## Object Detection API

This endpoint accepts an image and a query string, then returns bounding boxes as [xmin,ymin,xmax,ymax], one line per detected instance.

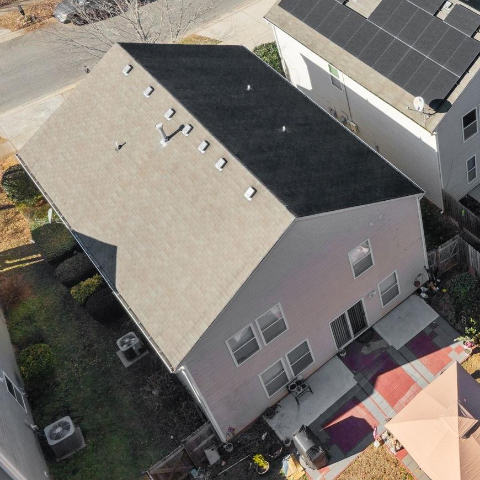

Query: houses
[19,43,434,447]
[0,318,47,480]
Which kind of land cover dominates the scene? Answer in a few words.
buildings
